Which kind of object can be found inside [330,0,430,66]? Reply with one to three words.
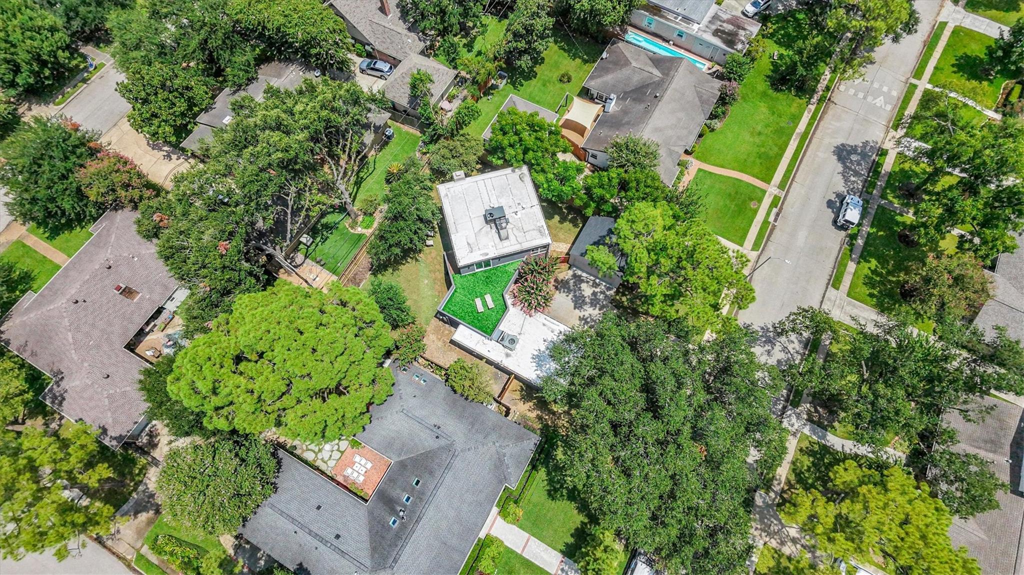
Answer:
house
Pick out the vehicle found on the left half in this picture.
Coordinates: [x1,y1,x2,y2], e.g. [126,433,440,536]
[357,60,392,81]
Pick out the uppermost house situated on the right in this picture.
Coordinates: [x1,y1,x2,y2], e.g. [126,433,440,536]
[625,0,762,65]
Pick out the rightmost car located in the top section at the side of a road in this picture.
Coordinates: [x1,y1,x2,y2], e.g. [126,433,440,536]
[834,195,861,227]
